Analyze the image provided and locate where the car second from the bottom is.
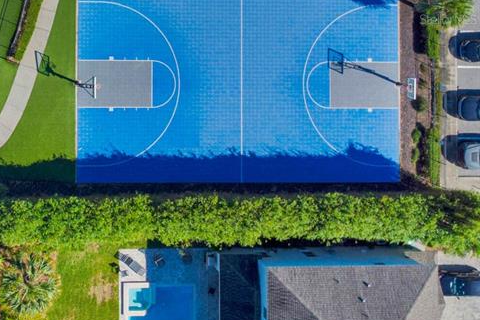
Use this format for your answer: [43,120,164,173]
[460,143,480,168]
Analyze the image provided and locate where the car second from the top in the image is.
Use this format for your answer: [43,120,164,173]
[459,97,480,122]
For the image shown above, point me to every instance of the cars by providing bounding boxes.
[460,38,480,62]
[459,97,480,122]
[441,267,480,298]
[460,143,480,168]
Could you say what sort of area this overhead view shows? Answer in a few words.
sports ground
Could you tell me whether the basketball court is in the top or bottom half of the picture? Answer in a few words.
top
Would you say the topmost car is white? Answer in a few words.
No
